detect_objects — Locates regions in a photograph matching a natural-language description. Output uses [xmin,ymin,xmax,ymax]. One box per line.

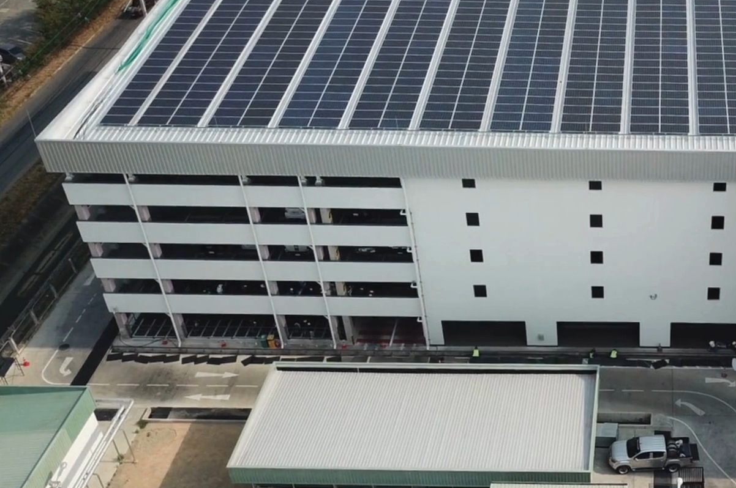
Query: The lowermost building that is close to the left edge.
[0,385,104,488]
